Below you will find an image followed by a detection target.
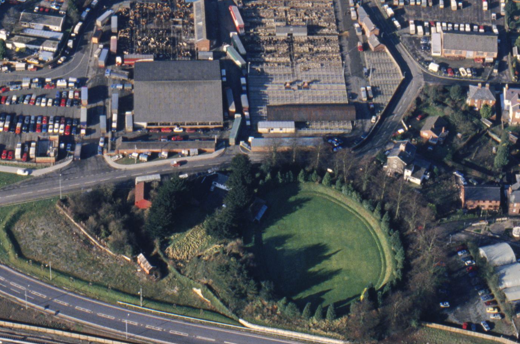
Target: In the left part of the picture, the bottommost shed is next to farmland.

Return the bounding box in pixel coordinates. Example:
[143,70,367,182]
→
[137,251,160,273]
